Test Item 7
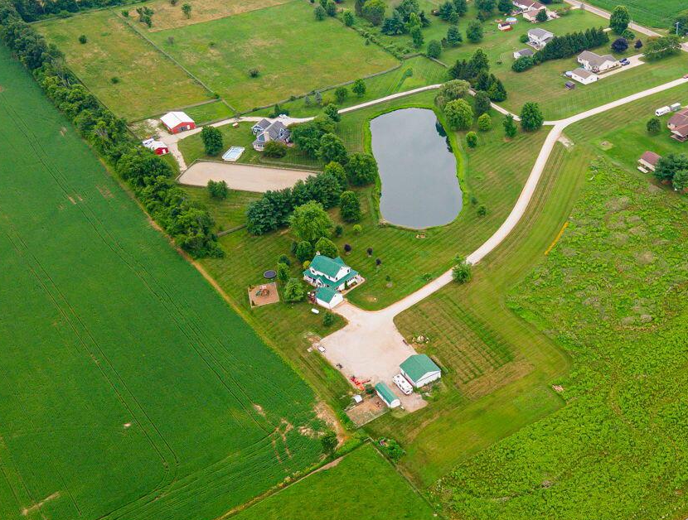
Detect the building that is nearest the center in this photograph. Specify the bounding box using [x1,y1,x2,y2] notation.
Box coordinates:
[297,253,360,316]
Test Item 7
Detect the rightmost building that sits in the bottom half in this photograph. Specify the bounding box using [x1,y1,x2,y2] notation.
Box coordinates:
[398,353,442,389]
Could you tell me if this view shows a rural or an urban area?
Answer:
rural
